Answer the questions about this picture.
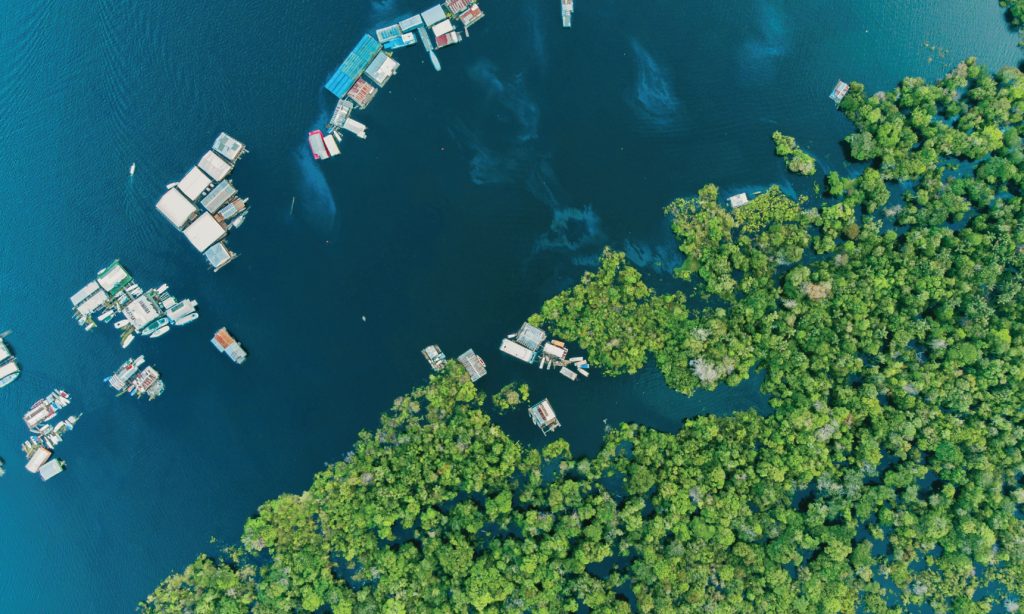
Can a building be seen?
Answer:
Yes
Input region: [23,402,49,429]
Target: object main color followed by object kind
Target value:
white boat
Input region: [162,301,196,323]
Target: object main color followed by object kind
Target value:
white boat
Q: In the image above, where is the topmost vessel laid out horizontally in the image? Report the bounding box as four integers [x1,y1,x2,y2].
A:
[383,34,418,47]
